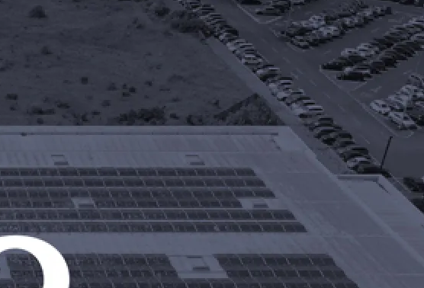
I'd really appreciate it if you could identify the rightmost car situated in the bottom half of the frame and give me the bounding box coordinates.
[398,179,424,195]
